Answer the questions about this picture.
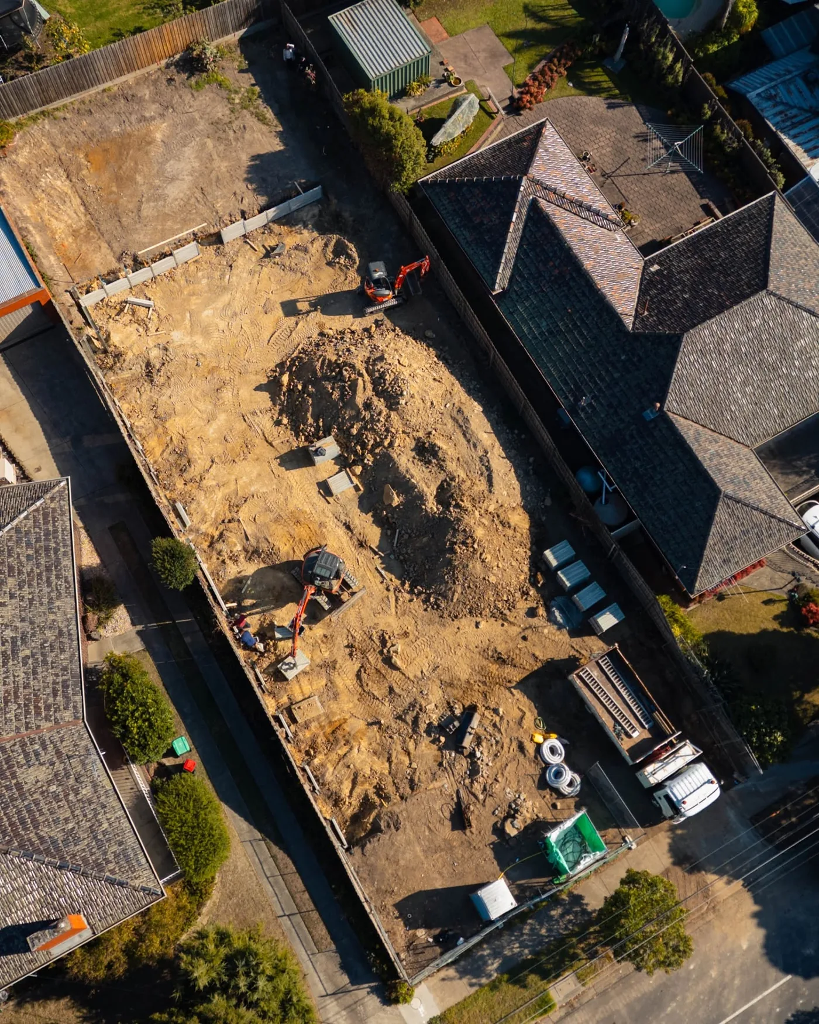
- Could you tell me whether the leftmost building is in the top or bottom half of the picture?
top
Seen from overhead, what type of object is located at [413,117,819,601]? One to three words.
house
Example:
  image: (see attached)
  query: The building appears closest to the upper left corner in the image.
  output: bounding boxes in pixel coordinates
[0,195,64,346]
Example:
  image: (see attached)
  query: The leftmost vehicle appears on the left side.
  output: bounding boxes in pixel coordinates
[287,543,363,663]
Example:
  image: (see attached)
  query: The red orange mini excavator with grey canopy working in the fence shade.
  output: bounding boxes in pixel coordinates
[357,255,433,321]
